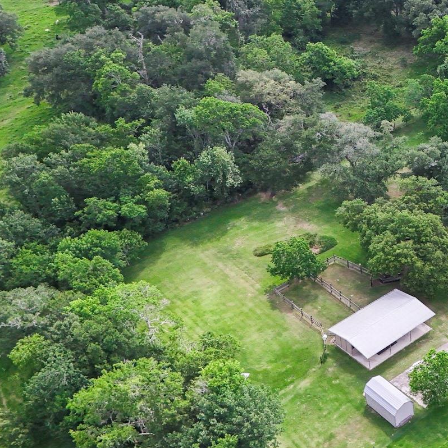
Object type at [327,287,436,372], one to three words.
barn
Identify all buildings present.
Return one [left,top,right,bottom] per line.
[327,287,436,372]
[363,377,414,429]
